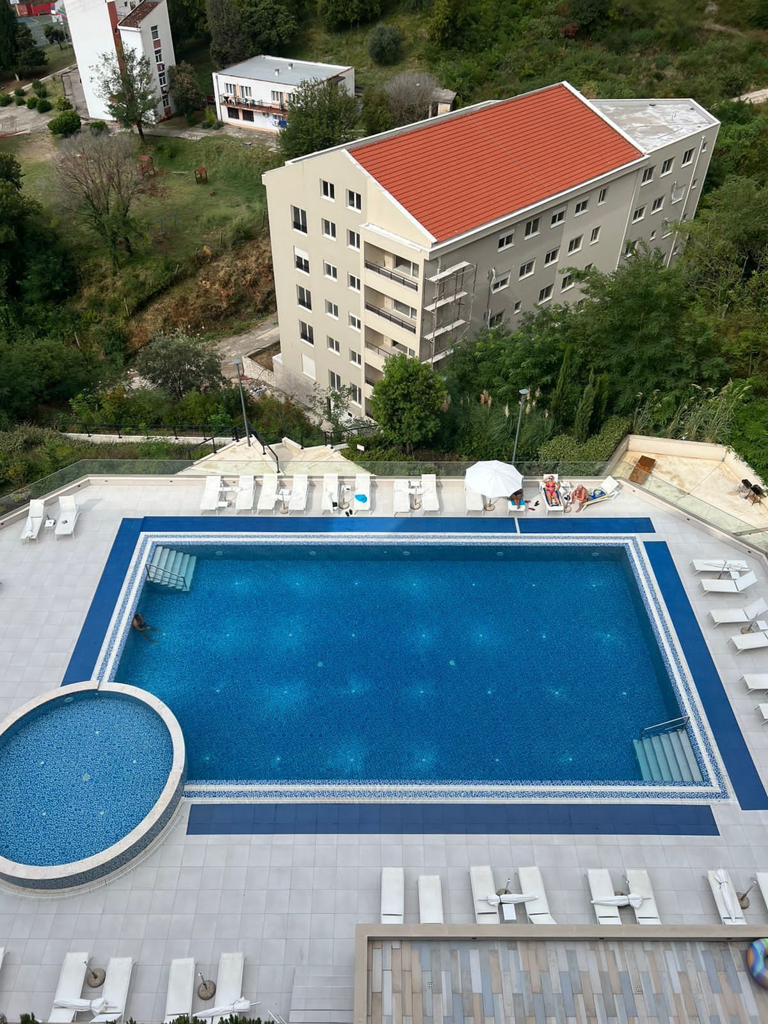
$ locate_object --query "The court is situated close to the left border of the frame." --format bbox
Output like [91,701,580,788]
[13,13,71,47]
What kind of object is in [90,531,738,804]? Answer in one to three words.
swimming pool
